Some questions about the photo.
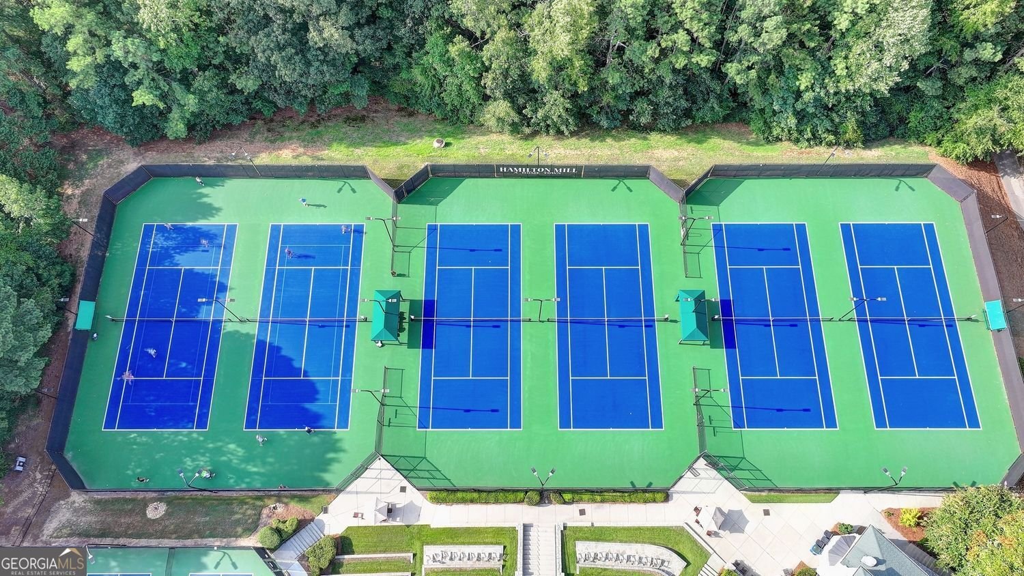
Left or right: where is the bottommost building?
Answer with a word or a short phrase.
right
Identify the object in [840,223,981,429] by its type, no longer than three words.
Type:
tennis court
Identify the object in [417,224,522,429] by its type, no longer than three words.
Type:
tennis court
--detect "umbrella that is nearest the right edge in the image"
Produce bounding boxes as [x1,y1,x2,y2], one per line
[694,502,721,534]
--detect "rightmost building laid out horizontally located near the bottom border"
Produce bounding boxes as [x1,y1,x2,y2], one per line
[815,524,930,576]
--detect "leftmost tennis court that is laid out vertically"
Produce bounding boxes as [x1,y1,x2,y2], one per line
[103,224,237,430]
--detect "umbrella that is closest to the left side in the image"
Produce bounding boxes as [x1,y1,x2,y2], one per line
[356,497,386,526]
